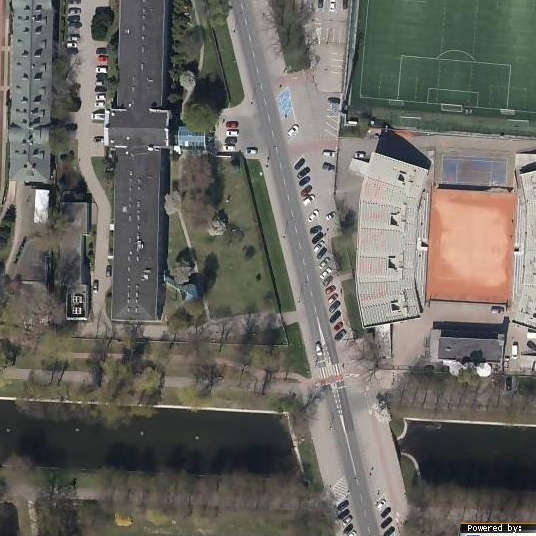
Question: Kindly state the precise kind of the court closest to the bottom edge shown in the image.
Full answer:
Looking closely, the court closest to the bottom edge is a tennis court.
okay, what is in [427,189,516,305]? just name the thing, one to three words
tennis court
